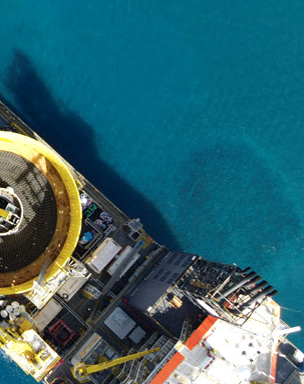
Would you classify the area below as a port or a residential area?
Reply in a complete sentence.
This image shows a port.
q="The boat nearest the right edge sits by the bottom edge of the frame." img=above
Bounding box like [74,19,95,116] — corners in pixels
[275,337,304,366]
